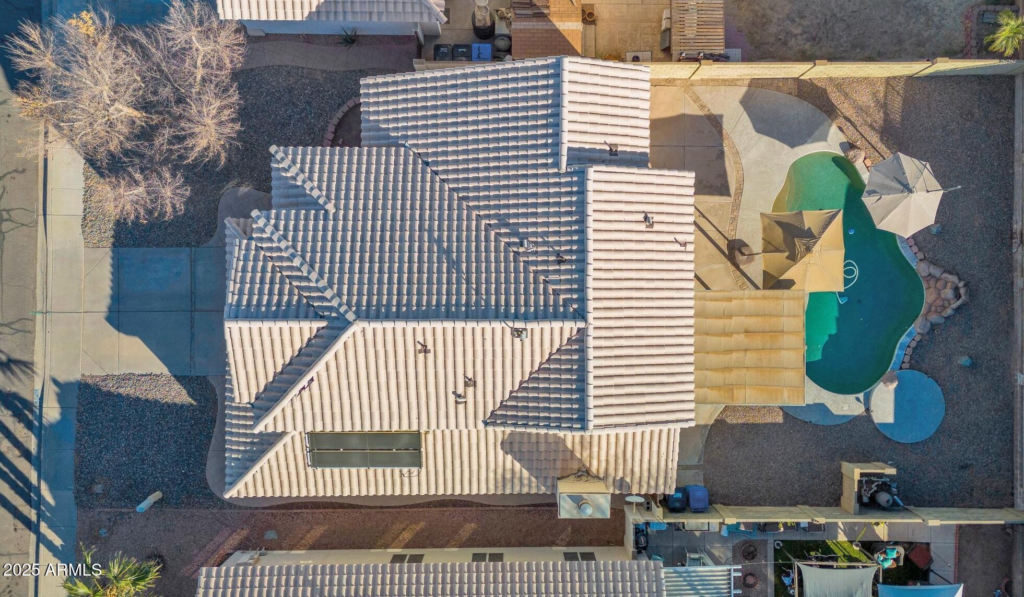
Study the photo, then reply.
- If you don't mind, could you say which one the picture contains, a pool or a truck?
pool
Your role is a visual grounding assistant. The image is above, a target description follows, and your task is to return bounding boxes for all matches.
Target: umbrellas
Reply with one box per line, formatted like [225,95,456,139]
[861,153,963,238]
[729,210,844,292]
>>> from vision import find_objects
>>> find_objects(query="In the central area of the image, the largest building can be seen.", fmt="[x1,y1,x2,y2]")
[223,56,697,520]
